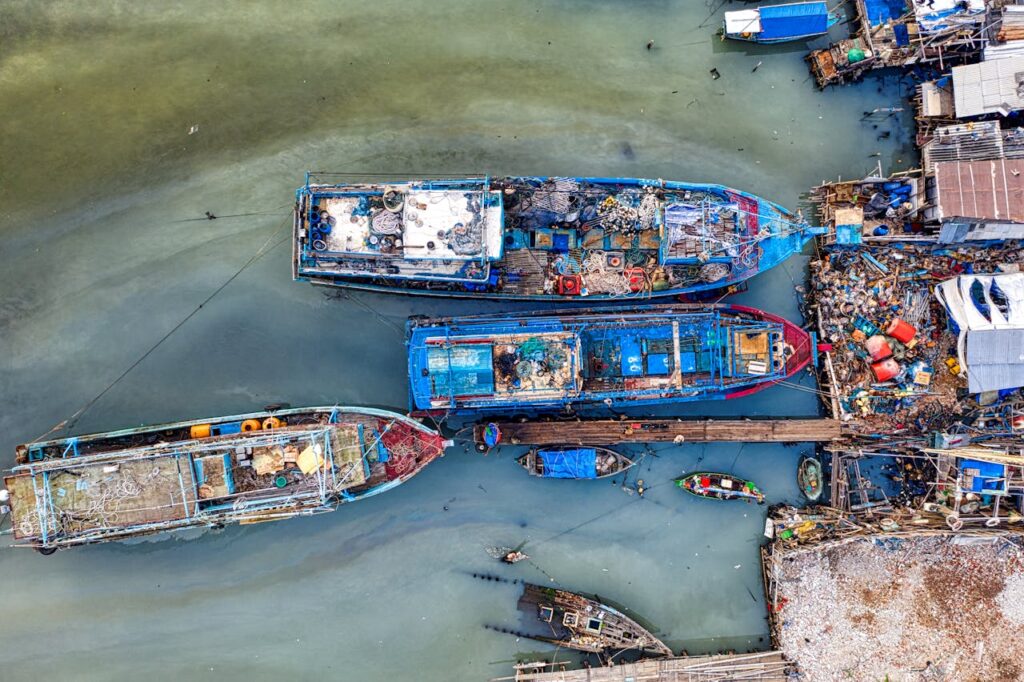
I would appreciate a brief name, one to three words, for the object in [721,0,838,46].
boat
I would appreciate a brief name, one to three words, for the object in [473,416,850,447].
pier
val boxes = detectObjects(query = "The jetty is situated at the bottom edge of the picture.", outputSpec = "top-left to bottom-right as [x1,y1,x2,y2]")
[505,648,784,682]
